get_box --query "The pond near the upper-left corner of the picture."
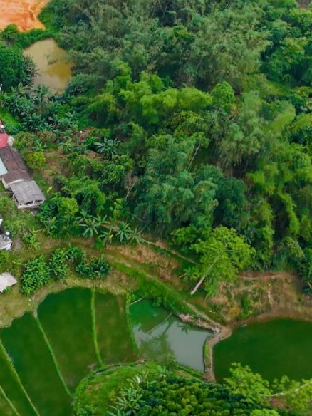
[22,42,72,97]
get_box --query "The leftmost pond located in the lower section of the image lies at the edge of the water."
[128,300,208,372]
